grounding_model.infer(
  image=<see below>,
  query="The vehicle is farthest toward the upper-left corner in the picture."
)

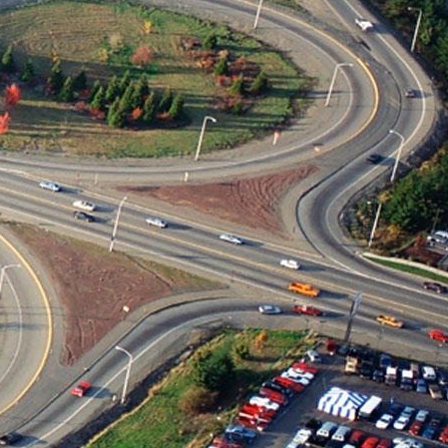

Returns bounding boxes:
[37,181,62,193]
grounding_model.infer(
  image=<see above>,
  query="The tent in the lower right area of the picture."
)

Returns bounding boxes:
[315,383,369,422]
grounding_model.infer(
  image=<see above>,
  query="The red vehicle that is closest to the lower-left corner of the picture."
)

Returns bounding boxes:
[71,380,92,397]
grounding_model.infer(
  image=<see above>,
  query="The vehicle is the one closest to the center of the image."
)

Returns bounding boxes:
[219,232,242,245]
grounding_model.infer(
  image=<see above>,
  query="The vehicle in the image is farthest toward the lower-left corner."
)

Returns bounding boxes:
[0,431,24,448]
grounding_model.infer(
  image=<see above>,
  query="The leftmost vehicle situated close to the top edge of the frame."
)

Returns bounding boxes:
[356,18,372,32]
